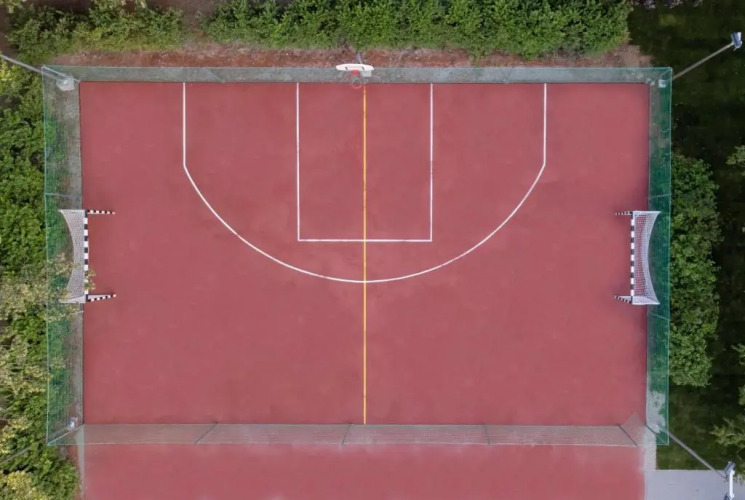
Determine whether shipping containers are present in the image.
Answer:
No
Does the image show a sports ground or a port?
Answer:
sports ground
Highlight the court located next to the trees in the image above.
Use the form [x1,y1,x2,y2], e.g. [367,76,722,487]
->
[80,82,649,500]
